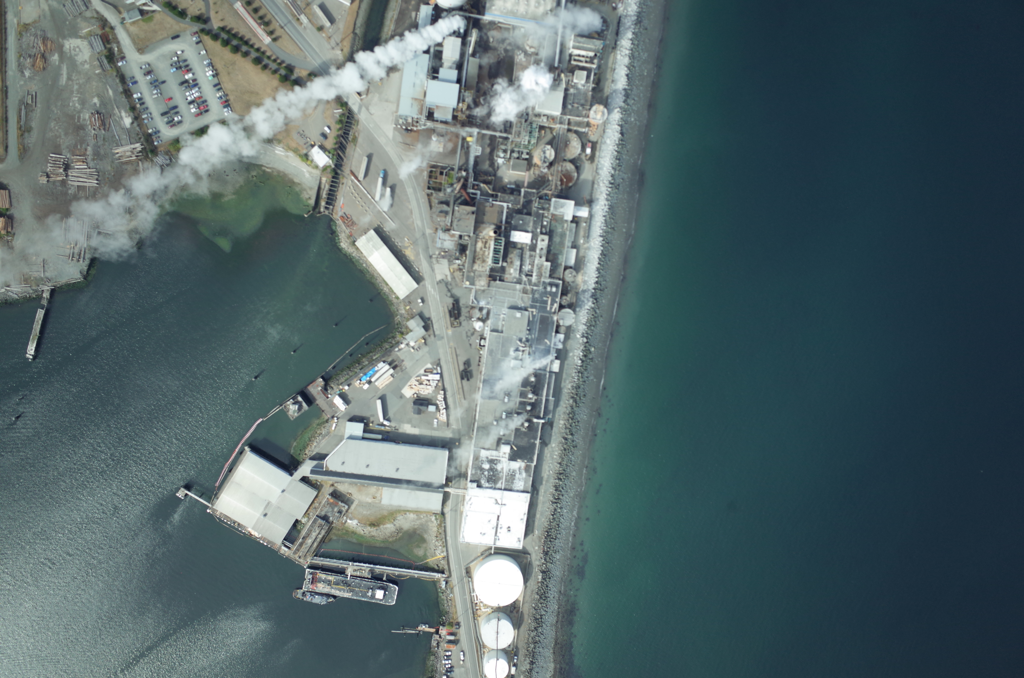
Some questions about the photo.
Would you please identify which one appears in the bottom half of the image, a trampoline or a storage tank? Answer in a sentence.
The feature located in the bottom half of the image is a storage tank.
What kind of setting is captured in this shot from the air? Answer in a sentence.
This looks like a port.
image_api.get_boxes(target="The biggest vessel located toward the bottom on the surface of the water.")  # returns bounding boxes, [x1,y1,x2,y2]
[302,568,399,605]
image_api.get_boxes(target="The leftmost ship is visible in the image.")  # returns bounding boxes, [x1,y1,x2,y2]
[25,309,47,362]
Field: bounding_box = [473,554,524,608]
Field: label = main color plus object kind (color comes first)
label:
white storage tank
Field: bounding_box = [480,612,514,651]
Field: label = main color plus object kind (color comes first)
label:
white storage tank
